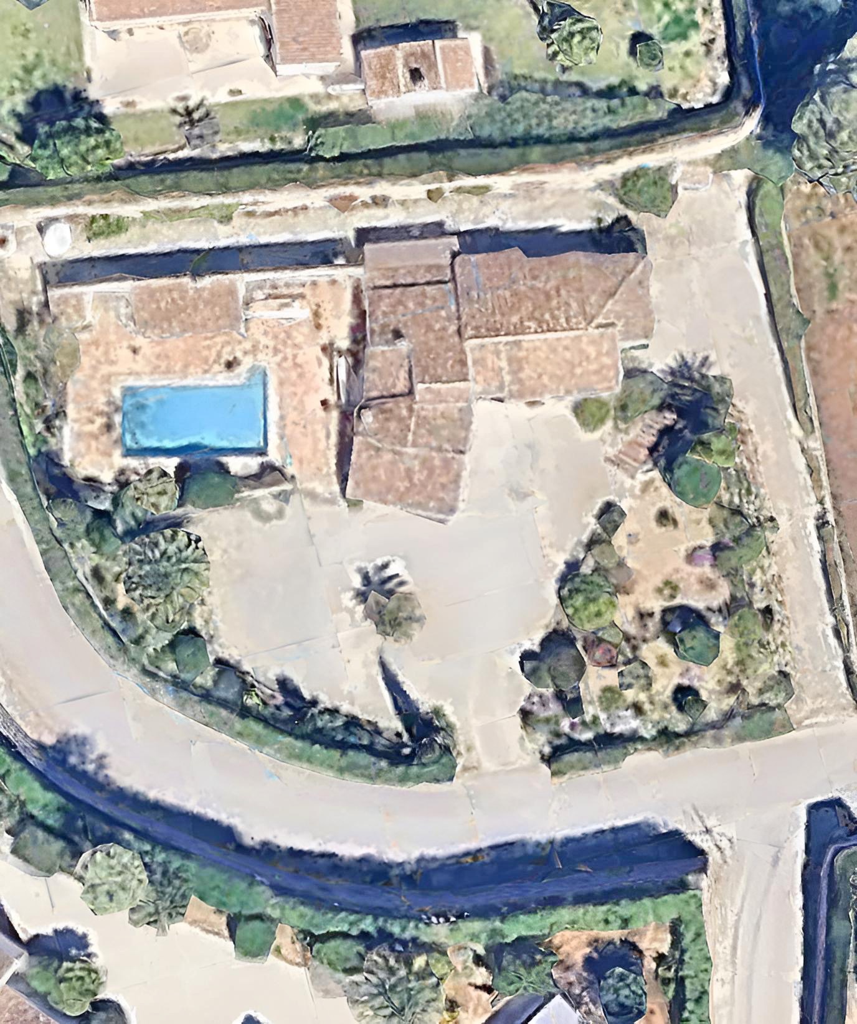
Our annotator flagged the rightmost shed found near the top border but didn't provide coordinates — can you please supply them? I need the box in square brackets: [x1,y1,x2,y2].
[361,37,479,104]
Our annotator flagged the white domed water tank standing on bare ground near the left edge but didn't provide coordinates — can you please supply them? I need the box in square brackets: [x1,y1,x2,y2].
[39,215,75,257]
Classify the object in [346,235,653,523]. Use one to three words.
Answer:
house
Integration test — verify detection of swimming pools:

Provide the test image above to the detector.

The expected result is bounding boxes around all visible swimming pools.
[119,362,272,460]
